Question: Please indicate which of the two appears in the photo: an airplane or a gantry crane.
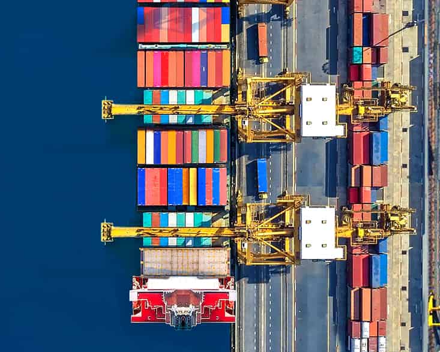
gantry crane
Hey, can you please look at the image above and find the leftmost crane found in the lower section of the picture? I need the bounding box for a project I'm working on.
[104,182,414,264]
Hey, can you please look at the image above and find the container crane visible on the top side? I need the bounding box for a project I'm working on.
[104,66,414,143]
